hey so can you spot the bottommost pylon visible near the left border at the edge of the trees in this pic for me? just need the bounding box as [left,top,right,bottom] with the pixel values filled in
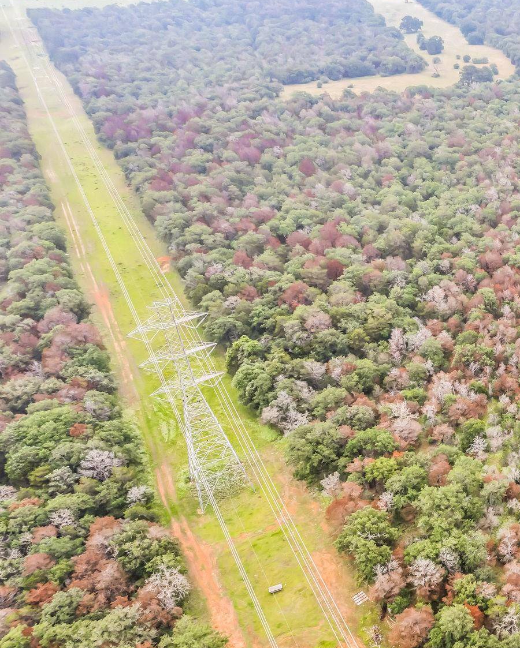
[0,28,65,129]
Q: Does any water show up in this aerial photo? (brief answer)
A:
No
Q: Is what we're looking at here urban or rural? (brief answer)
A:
rural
